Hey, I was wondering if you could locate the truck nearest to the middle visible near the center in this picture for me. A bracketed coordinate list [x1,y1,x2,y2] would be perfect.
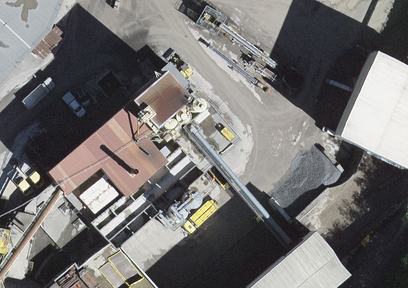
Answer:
[215,120,240,146]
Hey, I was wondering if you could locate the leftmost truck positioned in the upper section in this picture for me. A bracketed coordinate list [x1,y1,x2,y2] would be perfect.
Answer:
[21,78,56,112]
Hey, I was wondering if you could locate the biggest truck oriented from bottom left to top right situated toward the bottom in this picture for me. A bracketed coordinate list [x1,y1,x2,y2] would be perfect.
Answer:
[186,199,220,232]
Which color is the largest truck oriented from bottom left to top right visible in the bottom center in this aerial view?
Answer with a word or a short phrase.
yellow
